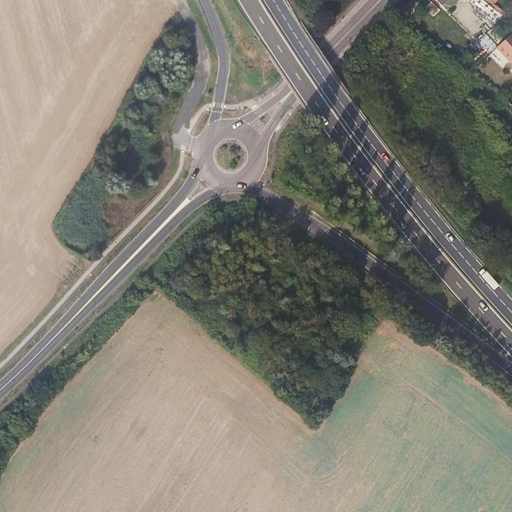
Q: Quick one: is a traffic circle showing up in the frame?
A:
Yes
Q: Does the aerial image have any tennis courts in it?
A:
No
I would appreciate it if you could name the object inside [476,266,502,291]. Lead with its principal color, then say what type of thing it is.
white truck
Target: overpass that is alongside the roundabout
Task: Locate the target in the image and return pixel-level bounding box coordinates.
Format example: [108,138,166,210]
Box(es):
[260,5,356,124]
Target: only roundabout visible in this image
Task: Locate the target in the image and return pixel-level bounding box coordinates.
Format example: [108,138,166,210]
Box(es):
[190,108,274,196]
